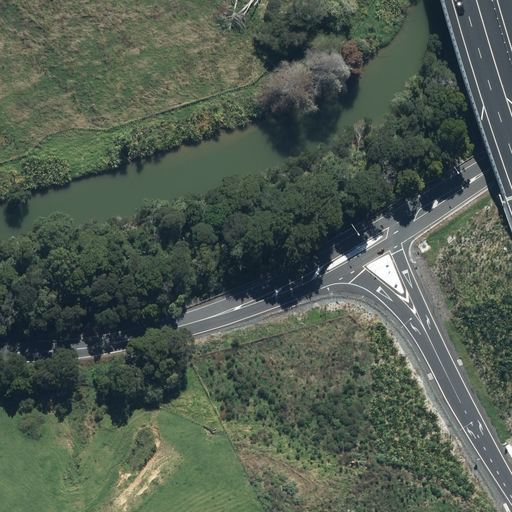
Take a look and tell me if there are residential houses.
No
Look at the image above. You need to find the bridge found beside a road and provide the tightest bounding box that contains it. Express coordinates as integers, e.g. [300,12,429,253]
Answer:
[440,0,512,208]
